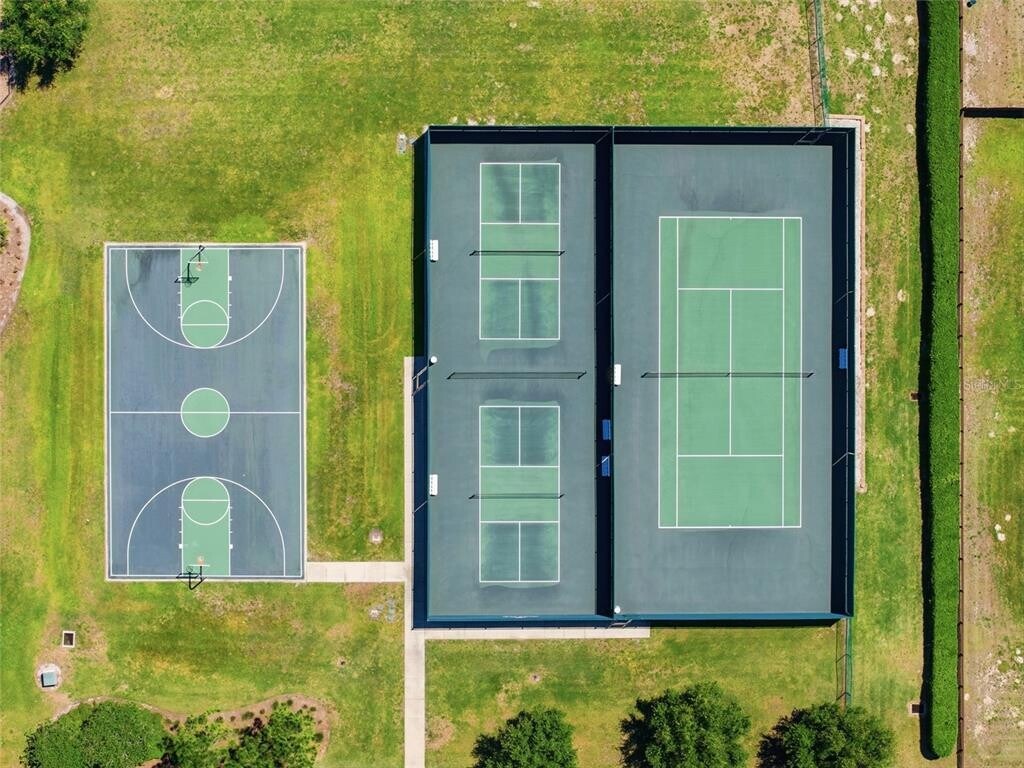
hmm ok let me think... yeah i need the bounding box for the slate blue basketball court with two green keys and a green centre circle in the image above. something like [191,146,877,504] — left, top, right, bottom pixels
[104,242,307,582]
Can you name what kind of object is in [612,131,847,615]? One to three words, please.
tennis court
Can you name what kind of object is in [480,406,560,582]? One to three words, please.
sports court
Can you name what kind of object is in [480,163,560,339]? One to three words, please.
sports court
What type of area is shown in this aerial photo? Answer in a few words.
sports ground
